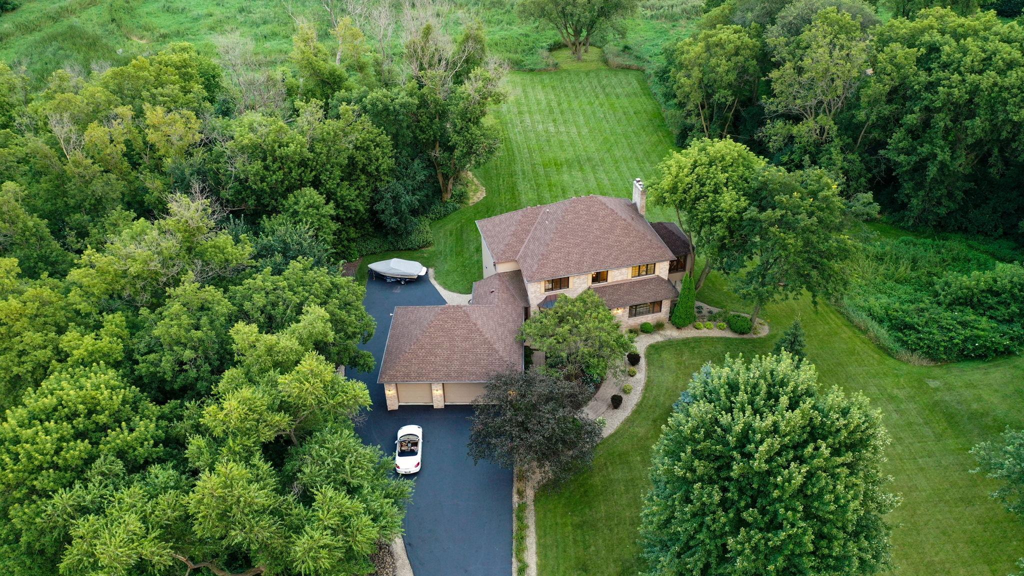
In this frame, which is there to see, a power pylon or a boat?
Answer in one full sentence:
There is a boat in the scene.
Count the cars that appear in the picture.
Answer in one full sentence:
In total, there is 1 car in the scene.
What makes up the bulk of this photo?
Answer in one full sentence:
What you mostly see from above here is trees.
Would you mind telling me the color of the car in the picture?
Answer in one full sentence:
From above, the car appears white.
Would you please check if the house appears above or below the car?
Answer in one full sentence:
From this view, the house can be seen above the car.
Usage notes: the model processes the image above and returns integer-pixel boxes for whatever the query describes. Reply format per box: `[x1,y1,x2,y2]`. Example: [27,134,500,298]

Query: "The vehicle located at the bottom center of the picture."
[394,426,426,476]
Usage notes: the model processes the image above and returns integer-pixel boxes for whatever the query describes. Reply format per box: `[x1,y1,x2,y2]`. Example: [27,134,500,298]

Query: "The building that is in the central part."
[377,182,699,408]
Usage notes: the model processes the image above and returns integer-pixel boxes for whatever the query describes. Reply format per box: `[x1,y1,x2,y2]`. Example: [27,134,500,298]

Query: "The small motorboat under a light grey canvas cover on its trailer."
[359,256,427,284]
